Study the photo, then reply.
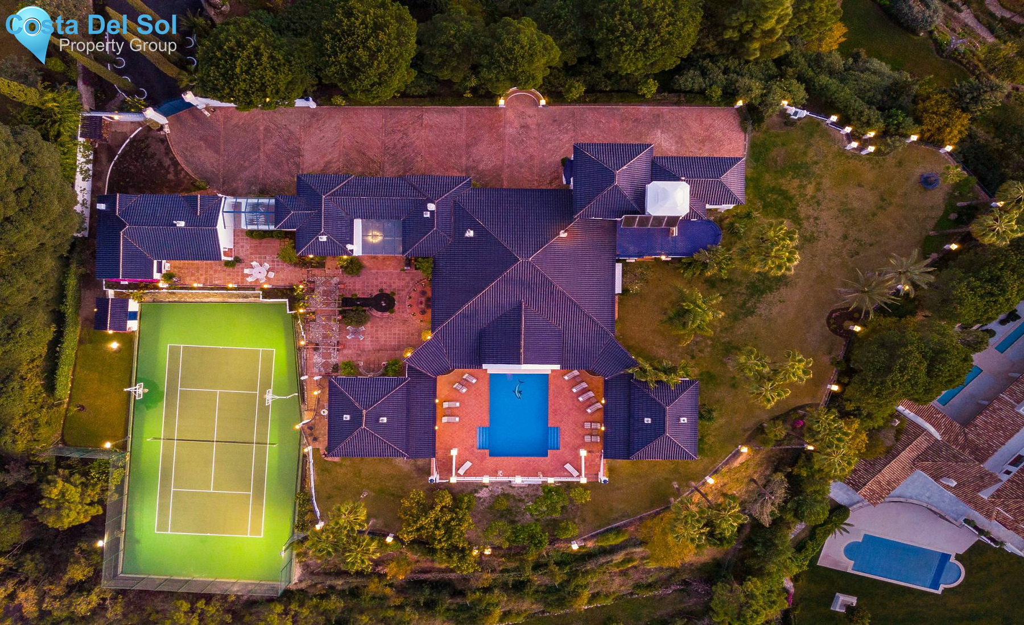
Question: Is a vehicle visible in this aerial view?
No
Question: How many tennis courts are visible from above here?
1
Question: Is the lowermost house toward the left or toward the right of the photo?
right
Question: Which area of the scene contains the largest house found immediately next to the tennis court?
center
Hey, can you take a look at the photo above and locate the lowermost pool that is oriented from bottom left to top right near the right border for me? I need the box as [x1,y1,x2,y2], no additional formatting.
[948,364,984,404]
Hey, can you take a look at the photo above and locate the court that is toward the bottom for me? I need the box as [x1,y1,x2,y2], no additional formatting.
[122,301,304,583]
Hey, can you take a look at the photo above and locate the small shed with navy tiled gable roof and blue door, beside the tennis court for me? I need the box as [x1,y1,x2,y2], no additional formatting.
[93,291,149,331]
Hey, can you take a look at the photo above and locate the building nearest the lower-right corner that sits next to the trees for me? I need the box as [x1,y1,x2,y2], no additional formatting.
[839,376,1024,539]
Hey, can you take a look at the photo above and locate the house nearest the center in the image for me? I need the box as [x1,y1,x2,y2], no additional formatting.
[274,142,746,460]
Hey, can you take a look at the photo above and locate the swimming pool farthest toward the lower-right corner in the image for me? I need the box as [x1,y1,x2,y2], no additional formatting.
[839,531,965,593]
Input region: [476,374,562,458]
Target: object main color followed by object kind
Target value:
blue swimming pool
